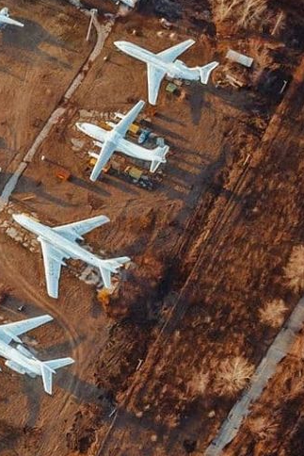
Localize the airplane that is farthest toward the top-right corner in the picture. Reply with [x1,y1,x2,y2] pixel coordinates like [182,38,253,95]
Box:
[114,42,216,104]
